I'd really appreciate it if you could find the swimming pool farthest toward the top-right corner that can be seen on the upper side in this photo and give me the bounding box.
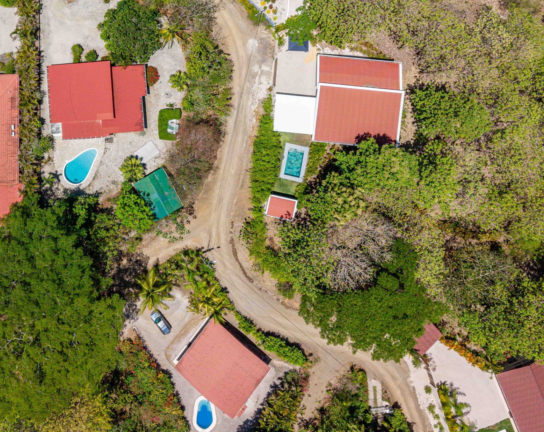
[279,143,309,182]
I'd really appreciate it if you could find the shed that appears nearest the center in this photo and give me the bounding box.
[265,194,298,221]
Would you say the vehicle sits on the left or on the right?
left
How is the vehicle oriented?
on a diagonal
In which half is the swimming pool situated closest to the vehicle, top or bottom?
bottom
